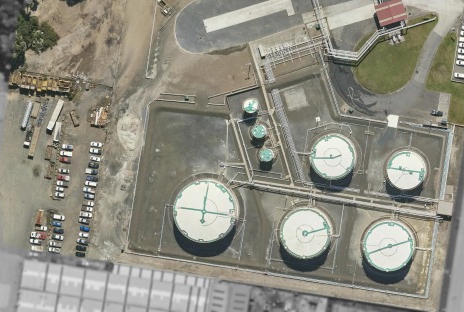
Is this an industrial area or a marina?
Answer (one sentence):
It's an industrial area.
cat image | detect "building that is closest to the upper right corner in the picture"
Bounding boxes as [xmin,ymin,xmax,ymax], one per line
[374,0,406,27]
